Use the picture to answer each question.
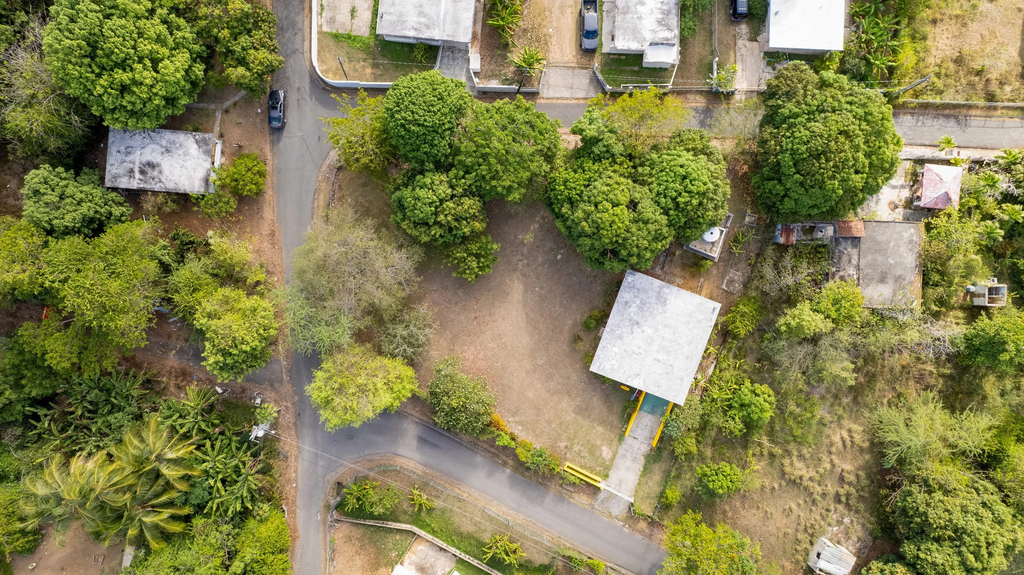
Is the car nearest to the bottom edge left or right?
left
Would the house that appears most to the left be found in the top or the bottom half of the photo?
top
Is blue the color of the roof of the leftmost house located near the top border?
No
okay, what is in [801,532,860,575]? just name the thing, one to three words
shed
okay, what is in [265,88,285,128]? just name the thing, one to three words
car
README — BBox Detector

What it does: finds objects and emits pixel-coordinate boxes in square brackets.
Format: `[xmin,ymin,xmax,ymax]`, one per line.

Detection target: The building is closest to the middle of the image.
[590,270,721,405]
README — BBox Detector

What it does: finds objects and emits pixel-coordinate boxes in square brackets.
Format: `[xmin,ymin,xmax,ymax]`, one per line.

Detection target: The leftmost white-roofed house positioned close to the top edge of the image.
[376,0,475,52]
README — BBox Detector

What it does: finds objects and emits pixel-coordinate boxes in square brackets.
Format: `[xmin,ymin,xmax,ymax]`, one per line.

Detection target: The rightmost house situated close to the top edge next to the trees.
[760,0,844,62]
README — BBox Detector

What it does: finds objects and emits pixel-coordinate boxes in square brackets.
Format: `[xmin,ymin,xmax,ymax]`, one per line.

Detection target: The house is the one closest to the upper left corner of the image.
[106,128,223,204]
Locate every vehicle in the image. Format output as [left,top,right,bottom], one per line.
[265,88,285,128]
[579,0,601,49]
[730,0,749,22]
